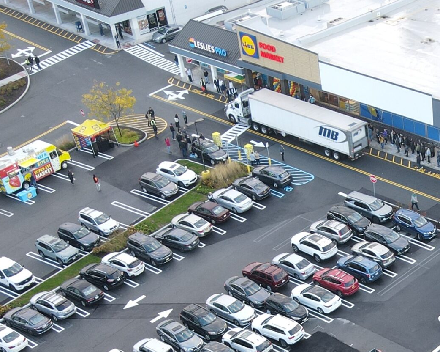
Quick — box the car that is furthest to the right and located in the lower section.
[391,209,438,239]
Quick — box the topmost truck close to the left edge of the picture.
[0,141,66,191]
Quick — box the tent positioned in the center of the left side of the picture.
[73,122,120,158]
